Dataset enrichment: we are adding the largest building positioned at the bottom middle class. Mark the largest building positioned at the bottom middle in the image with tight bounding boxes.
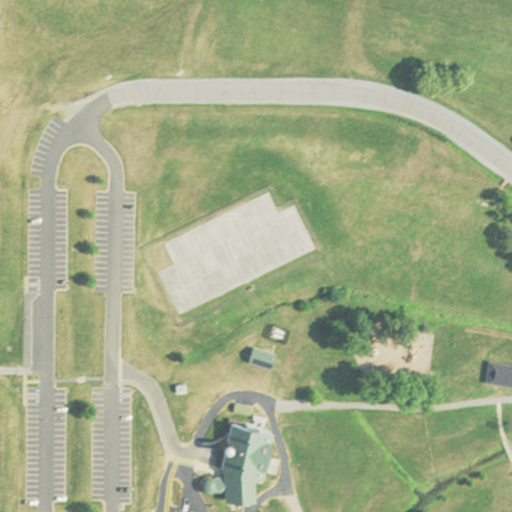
[222,424,274,508]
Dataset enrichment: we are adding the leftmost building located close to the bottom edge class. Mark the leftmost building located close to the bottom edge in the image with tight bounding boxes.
[202,478,225,498]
